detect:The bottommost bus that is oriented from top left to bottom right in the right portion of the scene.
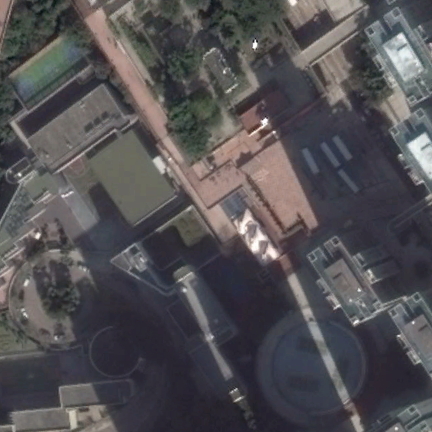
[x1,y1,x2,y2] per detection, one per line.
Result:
[336,167,359,193]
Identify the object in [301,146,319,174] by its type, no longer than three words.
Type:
vehicle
